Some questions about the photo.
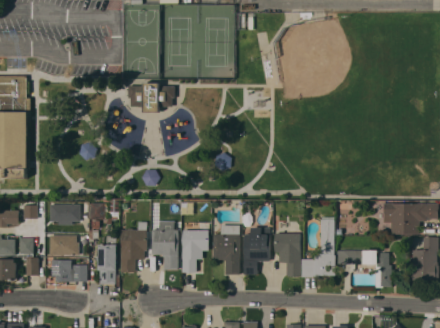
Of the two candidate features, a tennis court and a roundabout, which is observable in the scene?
tennis court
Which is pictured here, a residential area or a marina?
residential area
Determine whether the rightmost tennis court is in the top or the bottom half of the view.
top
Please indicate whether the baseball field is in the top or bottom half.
top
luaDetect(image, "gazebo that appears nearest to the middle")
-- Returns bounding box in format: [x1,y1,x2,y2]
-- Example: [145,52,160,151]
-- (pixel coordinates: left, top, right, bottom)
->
[215,153,232,168]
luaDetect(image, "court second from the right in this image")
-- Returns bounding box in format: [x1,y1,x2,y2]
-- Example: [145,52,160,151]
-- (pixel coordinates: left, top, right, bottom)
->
[164,4,200,78]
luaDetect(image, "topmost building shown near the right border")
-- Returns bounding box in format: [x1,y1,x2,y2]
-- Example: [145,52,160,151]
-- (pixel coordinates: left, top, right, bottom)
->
[384,198,439,234]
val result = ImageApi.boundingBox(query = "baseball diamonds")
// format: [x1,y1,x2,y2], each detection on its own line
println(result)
[252,12,440,194]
